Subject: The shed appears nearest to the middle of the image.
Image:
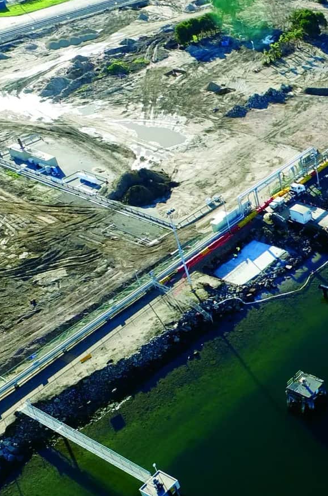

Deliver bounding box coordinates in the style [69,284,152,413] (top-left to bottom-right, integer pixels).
[204,196,250,233]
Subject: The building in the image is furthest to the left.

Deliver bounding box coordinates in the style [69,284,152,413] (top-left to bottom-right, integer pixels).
[6,144,65,174]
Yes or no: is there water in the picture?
Yes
